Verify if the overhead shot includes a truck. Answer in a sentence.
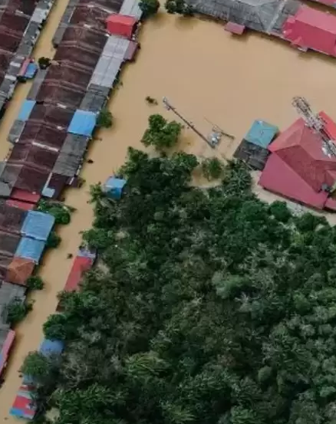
No, I find no truck anywhere in the image.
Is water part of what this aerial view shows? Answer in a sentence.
Yes, there is water in the image.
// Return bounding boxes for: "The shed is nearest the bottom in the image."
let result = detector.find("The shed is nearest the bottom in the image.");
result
[10,385,40,420]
